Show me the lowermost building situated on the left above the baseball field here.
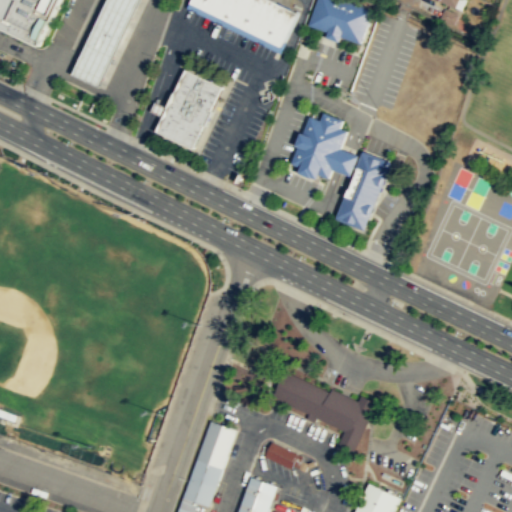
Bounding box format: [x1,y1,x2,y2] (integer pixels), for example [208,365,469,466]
[155,70,227,152]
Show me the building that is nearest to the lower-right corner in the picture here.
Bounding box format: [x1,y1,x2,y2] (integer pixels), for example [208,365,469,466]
[356,484,404,512]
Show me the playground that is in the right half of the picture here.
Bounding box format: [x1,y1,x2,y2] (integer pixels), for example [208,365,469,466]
[470,140,512,177]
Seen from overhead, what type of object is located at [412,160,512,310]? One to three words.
basketball court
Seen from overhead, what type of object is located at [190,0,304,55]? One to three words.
building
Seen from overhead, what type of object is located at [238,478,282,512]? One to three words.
shed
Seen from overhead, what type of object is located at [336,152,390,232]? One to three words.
building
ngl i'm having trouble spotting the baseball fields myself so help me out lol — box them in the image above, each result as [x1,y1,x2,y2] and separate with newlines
[0,148,210,486]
